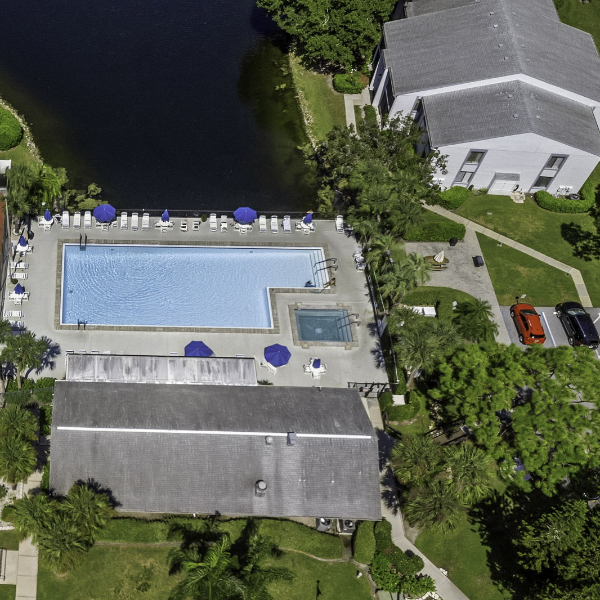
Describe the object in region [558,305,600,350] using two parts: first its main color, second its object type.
black car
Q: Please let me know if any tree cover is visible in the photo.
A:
Yes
